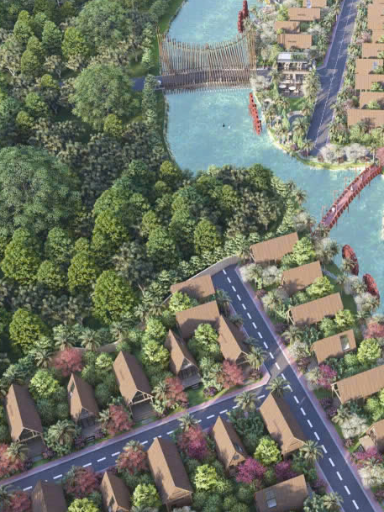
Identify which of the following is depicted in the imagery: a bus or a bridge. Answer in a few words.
bridge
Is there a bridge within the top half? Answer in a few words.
Yes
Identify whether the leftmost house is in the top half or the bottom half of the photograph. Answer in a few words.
bottom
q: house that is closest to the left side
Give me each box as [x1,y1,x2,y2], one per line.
[5,385,42,455]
